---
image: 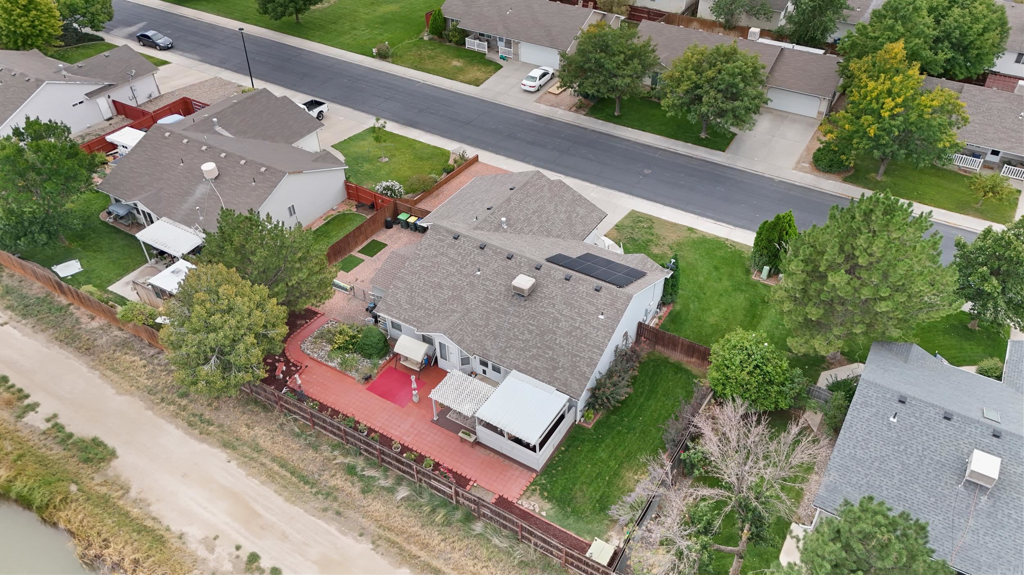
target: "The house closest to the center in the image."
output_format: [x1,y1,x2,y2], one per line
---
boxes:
[368,173,672,427]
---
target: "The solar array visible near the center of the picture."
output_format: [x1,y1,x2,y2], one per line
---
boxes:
[547,249,646,286]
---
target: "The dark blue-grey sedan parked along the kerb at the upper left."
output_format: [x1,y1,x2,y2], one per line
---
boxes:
[135,31,173,49]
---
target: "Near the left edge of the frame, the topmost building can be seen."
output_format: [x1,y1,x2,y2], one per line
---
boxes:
[0,45,162,144]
